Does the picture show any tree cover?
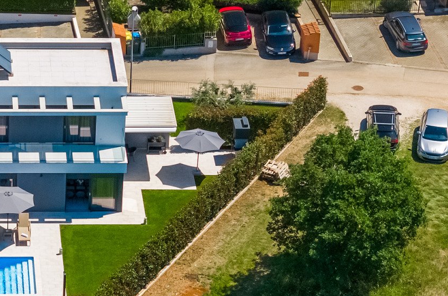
Yes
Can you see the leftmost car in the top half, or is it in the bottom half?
top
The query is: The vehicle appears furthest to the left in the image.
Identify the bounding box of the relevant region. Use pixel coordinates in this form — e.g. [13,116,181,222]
[220,9,254,44]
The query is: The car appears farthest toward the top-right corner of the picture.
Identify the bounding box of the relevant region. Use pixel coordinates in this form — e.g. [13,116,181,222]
[389,14,434,51]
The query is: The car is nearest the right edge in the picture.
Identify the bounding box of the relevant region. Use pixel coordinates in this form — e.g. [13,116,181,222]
[418,111,448,161]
